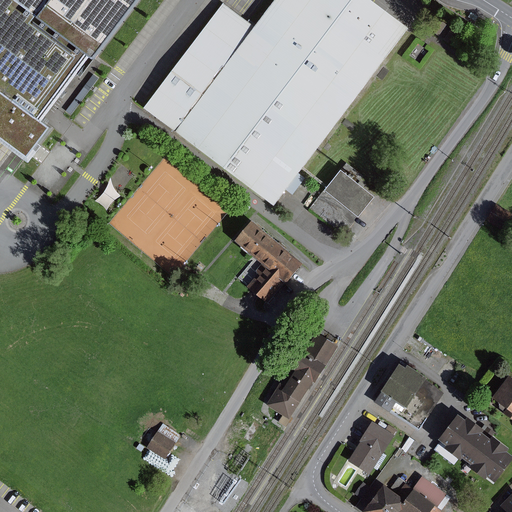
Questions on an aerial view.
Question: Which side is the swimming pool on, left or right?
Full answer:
You can find the swimming pool on the right side of the picture.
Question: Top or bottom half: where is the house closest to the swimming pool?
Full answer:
The bottom half of the photo is where the house closest to the swimming pool is.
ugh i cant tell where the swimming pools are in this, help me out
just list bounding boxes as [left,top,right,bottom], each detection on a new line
[334,460,366,490]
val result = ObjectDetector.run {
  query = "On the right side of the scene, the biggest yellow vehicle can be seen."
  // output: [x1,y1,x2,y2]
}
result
[363,410,380,424]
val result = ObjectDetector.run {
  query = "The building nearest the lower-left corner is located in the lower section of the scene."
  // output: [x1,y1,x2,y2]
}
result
[146,424,180,459]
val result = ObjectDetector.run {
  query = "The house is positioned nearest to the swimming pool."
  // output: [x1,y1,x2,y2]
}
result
[348,422,396,476]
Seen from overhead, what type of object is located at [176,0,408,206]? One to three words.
building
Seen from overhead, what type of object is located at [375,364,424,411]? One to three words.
house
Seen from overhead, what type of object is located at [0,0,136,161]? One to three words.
building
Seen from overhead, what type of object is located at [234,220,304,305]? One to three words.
house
